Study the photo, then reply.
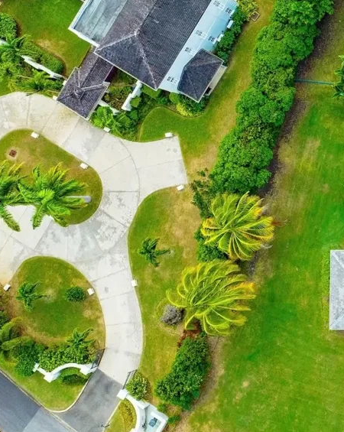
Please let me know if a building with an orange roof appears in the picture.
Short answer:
No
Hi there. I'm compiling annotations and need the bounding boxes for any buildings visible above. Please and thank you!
[42,0,239,103]
[328,249,344,330]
